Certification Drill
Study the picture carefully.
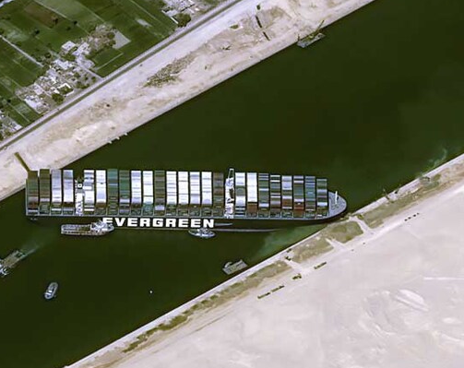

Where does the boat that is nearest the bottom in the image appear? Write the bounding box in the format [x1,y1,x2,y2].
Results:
[44,281,59,298]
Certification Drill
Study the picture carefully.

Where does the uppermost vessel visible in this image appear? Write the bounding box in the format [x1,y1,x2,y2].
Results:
[298,31,326,48]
